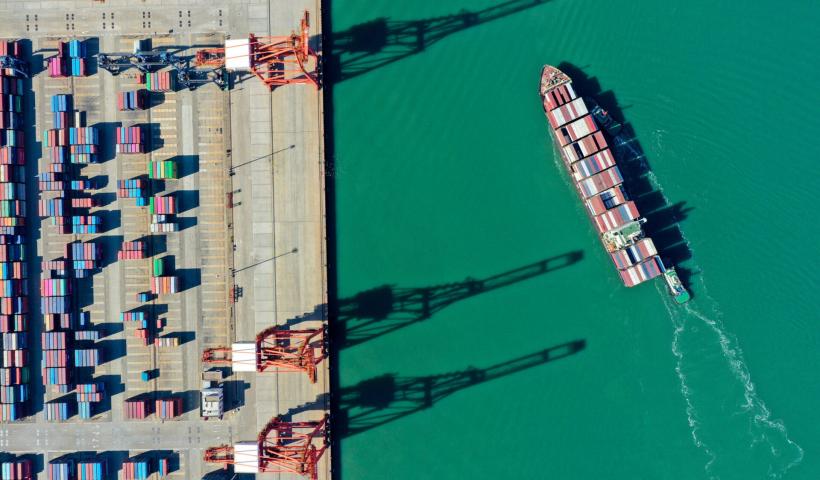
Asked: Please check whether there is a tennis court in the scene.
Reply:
No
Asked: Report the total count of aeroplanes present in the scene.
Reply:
0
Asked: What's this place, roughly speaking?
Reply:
port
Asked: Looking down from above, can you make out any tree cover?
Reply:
No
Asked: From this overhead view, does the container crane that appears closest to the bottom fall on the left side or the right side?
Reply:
left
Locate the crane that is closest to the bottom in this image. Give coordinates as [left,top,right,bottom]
[203,407,329,480]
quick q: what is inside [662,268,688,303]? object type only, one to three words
boat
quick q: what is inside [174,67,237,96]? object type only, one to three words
container crane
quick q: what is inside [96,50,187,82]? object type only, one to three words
container crane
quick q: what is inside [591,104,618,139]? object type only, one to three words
boat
